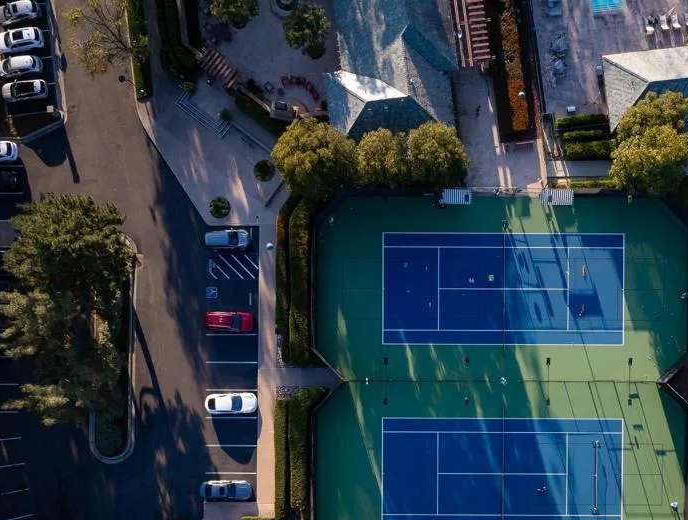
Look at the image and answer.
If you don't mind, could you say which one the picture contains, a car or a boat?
car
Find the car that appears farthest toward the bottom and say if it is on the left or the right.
left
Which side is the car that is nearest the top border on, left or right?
left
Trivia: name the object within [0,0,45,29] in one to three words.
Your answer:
car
